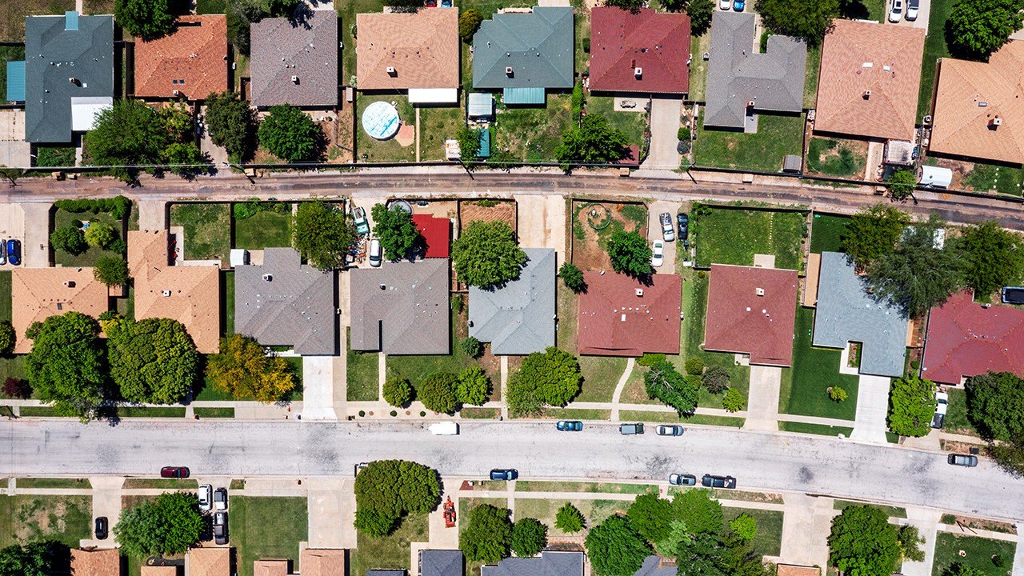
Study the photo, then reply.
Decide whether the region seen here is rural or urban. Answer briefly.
urban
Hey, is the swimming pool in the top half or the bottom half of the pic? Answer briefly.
top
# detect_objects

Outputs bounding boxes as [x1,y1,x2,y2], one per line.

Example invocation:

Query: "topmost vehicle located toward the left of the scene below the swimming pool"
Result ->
[352,205,369,235]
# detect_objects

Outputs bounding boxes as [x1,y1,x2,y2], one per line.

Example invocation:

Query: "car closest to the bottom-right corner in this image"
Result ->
[945,453,978,466]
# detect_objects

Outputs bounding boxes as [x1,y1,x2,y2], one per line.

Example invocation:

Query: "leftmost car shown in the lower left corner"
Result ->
[93,515,110,540]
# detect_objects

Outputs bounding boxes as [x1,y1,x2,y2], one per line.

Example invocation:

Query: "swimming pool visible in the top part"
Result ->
[361,101,402,140]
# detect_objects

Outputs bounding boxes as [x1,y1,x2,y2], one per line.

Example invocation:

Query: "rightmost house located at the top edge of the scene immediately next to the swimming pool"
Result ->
[356,7,459,106]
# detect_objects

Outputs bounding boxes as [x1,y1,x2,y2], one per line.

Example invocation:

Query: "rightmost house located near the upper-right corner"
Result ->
[925,39,1024,165]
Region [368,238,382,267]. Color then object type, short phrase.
white vehicle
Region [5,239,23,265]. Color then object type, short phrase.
blue car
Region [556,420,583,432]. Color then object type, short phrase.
blue vehicle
